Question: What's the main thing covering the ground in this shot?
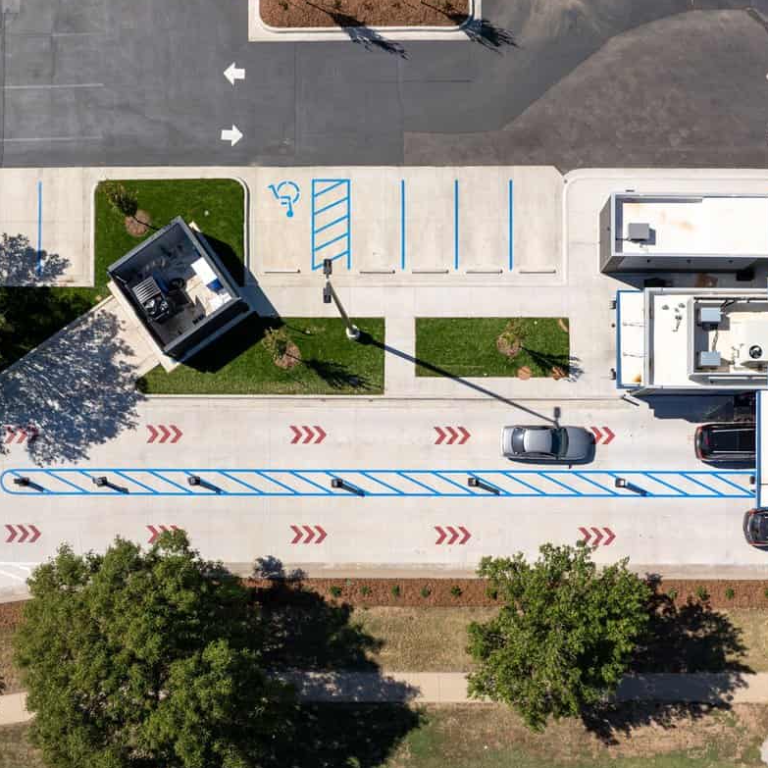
paved ground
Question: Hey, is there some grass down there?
Yes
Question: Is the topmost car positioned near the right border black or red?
black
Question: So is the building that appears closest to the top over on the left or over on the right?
right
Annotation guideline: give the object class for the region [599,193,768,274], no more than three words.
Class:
building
